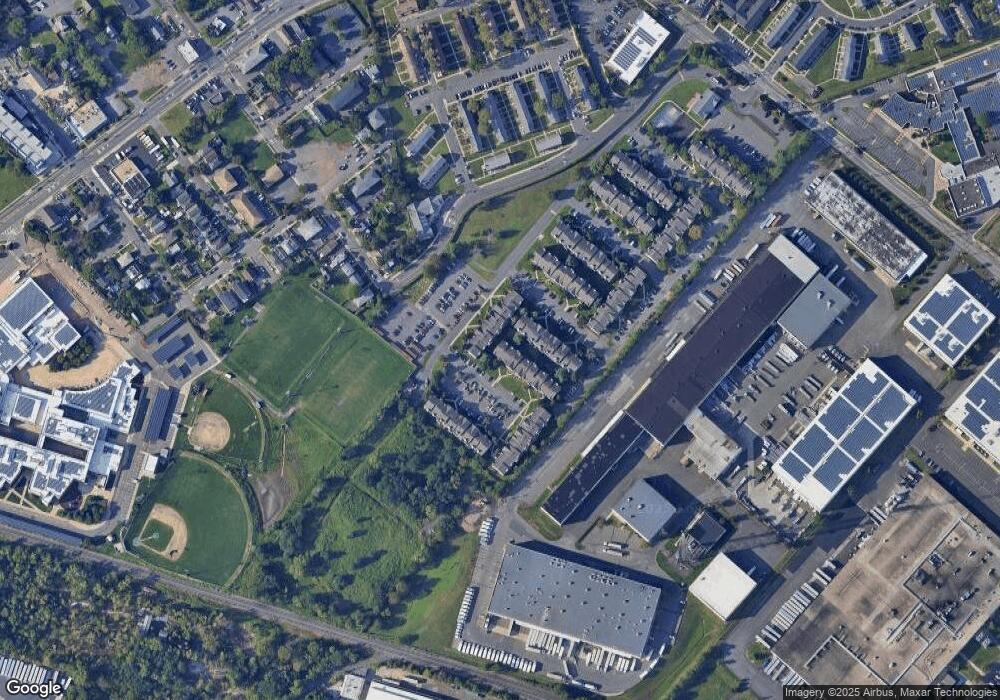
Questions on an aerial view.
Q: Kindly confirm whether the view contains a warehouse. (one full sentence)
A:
Yes, I can see a warehouse in this picture.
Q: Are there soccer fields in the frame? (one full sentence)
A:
Yes, the photo shows a soccer field.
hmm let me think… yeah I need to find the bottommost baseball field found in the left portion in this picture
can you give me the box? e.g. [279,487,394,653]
[123,451,253,587]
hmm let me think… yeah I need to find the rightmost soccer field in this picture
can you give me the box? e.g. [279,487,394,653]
[287,316,413,446]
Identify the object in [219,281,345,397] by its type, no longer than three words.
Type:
soccer field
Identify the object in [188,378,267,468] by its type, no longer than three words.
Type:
baseball field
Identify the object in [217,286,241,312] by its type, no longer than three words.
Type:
house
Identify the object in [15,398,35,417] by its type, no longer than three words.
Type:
solar array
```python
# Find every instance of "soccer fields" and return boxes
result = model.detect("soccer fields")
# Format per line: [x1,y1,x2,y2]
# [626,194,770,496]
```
[219,281,345,397]
[287,316,413,446]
